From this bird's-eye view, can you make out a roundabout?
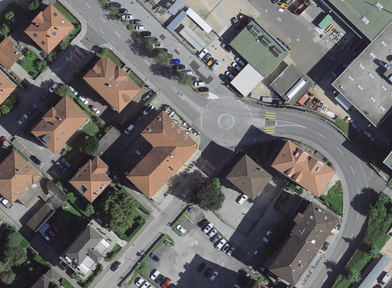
Yes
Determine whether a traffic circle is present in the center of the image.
Yes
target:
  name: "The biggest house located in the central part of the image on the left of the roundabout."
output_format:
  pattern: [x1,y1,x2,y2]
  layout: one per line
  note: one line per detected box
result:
[127,110,198,198]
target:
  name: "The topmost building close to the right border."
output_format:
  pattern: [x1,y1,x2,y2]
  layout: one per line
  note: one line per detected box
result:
[328,0,392,42]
